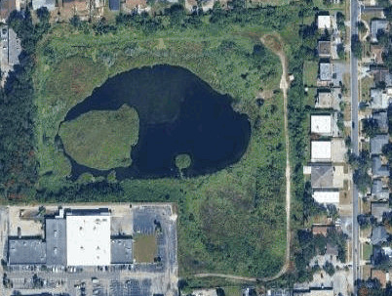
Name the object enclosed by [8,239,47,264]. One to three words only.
building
